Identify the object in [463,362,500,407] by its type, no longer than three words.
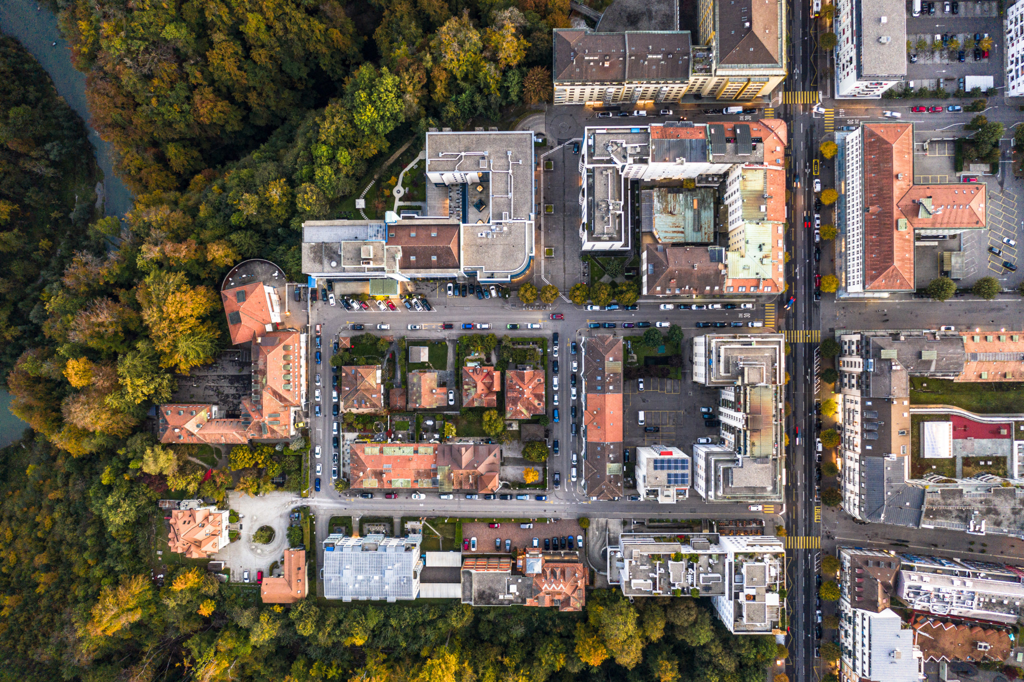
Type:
house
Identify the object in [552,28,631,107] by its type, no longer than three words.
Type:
building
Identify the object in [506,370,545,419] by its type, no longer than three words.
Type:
house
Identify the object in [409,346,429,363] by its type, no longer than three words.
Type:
building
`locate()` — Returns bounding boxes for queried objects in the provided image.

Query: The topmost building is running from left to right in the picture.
[595,0,675,32]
